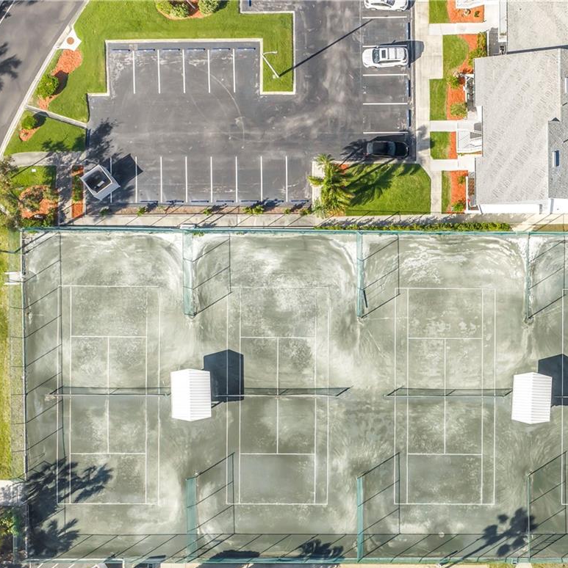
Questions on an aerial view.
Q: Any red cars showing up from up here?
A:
No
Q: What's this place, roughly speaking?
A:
sports ground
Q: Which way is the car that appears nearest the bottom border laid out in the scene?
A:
from left to right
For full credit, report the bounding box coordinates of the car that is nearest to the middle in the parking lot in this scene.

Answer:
[365,139,411,161]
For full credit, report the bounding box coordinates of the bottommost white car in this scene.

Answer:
[363,45,409,68]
